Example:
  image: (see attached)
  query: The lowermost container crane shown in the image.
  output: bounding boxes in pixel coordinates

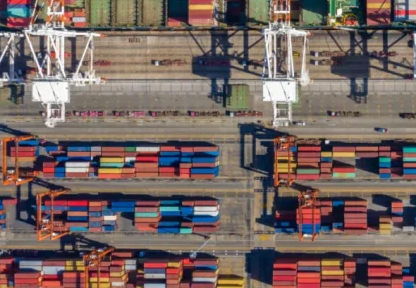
[82,242,116,288]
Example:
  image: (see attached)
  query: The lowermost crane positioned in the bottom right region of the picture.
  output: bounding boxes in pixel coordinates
[295,187,322,239]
